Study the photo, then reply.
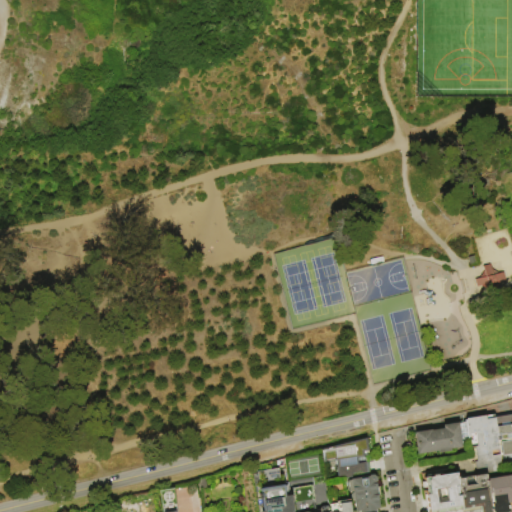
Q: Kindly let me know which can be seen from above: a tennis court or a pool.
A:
tennis court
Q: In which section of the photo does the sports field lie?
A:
top right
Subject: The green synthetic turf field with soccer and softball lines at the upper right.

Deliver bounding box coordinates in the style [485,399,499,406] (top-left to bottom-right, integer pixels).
[418,0,512,95]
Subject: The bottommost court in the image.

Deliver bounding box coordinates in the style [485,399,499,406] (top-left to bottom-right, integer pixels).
[288,456,322,478]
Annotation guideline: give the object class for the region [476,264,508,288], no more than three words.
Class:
building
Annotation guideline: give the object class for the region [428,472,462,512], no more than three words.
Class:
house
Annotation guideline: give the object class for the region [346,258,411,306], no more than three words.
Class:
basketball court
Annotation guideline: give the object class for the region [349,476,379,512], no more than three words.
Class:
house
